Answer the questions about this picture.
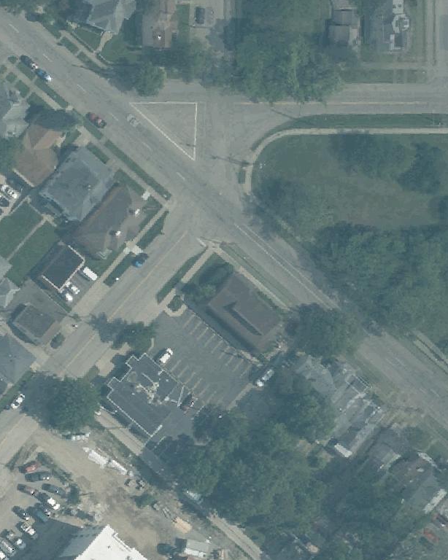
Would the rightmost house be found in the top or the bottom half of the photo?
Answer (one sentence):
Seen from above, the rightmost house lies in the bottom half of the view.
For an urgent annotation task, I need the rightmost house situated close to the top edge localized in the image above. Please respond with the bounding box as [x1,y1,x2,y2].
[363,0,412,51]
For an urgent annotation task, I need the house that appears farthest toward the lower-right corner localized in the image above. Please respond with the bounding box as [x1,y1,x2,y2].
[393,452,446,514]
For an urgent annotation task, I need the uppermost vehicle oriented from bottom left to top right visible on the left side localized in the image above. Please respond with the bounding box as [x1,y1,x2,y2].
[131,252,149,269]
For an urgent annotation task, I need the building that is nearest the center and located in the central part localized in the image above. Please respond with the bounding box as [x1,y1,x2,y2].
[207,271,286,351]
